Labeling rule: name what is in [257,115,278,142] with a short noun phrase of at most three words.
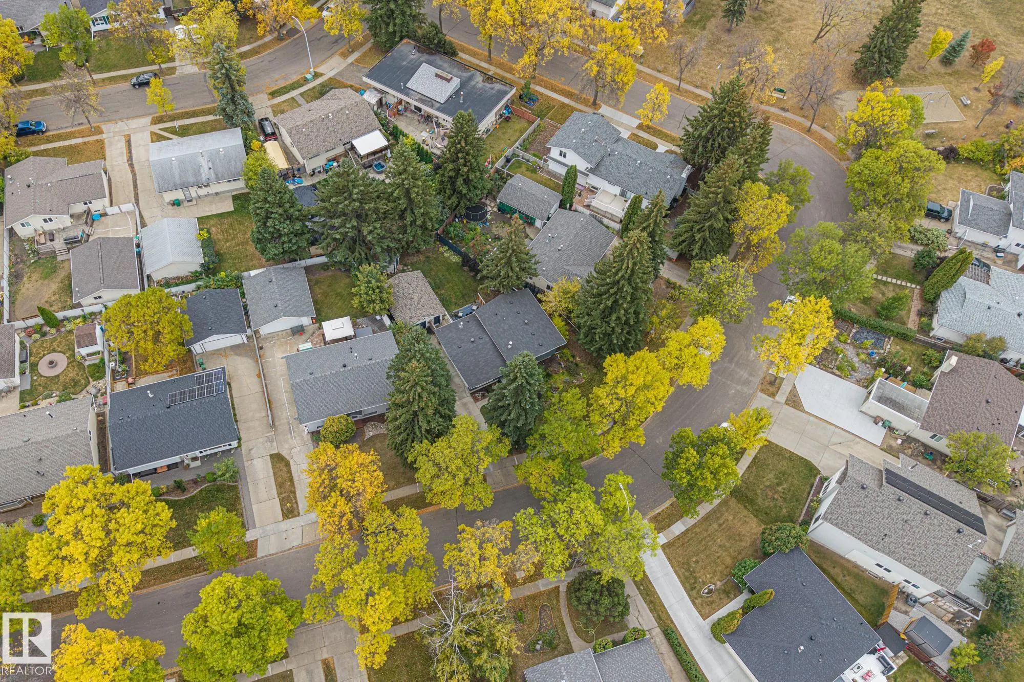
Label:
truck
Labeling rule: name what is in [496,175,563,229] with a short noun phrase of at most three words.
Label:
shed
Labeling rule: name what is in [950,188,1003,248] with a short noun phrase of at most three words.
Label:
building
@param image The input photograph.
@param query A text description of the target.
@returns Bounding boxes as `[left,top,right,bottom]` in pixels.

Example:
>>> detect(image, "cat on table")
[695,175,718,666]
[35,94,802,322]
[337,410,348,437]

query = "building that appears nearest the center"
[434,288,567,397]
